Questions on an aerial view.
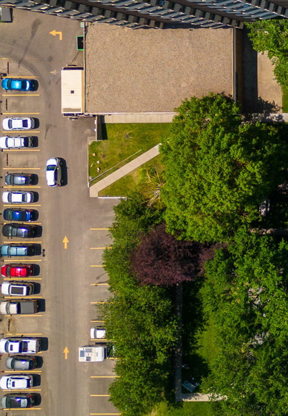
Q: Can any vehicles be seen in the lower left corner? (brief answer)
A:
Yes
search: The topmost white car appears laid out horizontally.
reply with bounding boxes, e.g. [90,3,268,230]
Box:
[2,116,36,131]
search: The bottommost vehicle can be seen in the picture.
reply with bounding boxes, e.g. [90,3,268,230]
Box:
[1,393,35,409]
